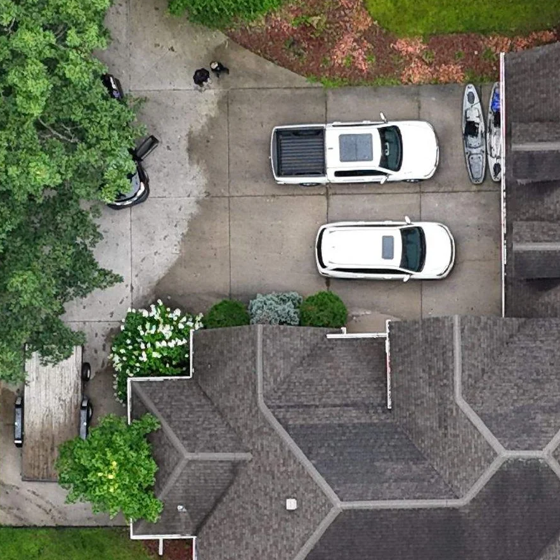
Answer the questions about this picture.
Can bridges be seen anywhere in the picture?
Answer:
No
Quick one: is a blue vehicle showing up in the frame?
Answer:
No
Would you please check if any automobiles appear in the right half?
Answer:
Yes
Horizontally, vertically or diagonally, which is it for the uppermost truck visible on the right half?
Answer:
horizontally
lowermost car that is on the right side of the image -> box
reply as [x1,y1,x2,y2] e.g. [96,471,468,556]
[316,216,456,286]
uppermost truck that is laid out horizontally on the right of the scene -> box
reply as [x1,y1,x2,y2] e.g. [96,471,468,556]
[271,113,441,190]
